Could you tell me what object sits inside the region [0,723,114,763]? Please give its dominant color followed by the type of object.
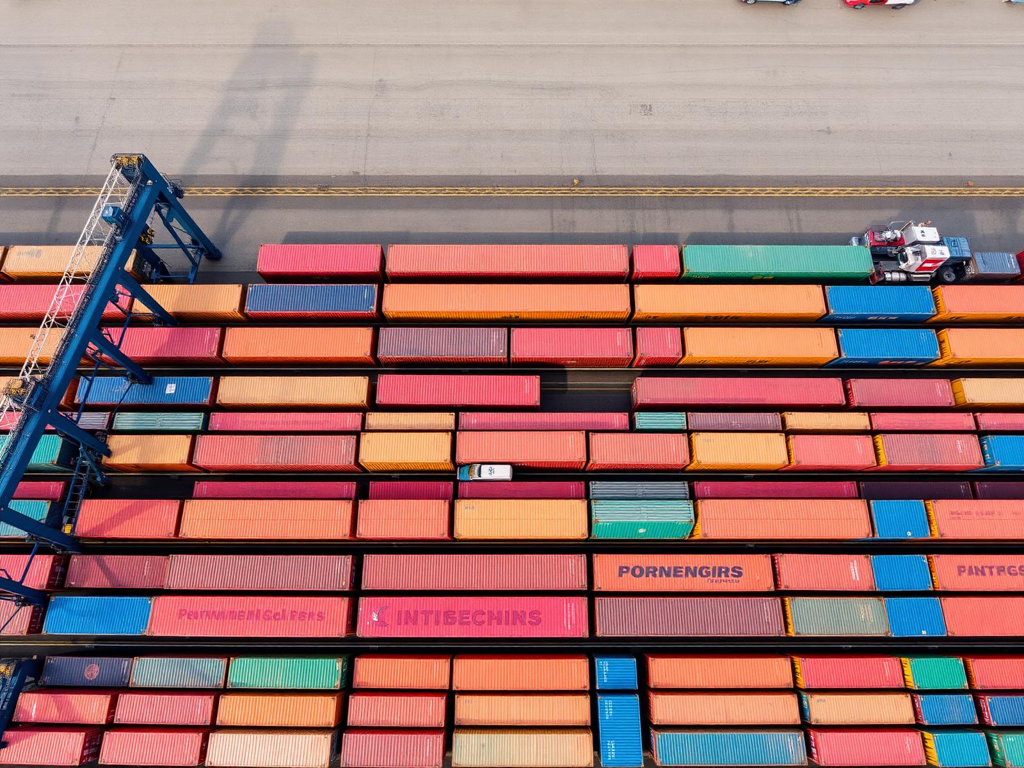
pink shipping container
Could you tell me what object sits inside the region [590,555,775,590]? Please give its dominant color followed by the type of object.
red shipping container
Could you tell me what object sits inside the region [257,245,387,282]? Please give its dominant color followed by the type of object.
red shipping container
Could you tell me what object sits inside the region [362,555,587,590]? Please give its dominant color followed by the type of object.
pink shipping container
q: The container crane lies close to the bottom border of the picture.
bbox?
[0,651,42,755]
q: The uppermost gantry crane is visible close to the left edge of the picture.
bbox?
[0,150,225,608]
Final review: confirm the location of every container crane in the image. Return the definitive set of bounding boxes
[0,150,225,608]
[0,651,42,755]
